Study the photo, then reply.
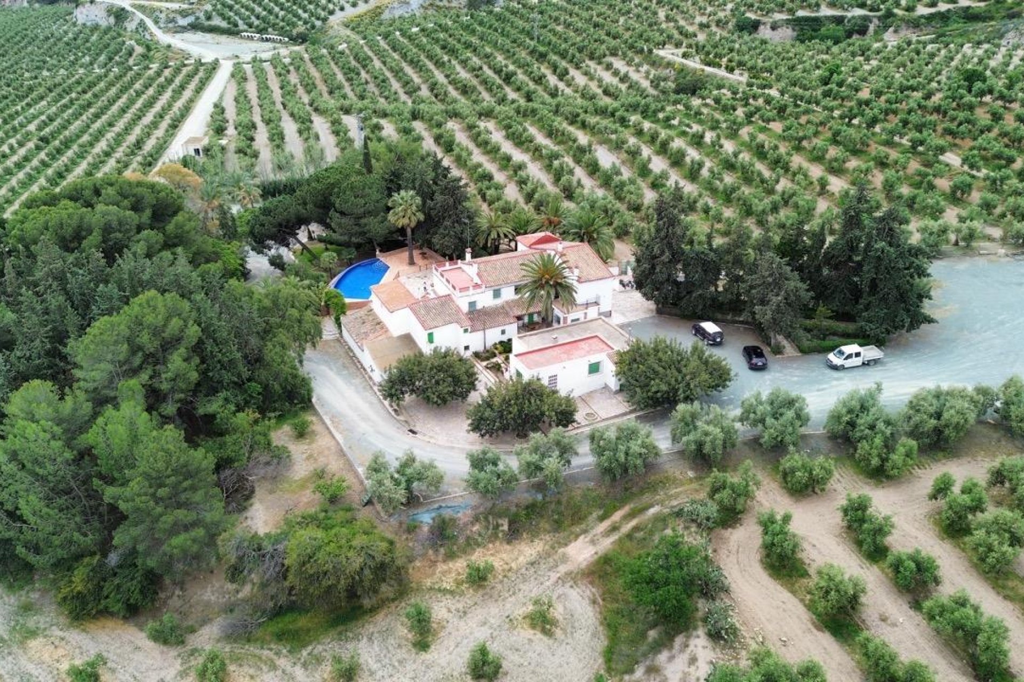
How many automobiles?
two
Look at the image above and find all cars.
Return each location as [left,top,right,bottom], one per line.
[742,349,767,371]
[693,323,726,347]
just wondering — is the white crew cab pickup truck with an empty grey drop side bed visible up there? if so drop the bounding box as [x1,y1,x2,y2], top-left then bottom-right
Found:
[827,343,887,370]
